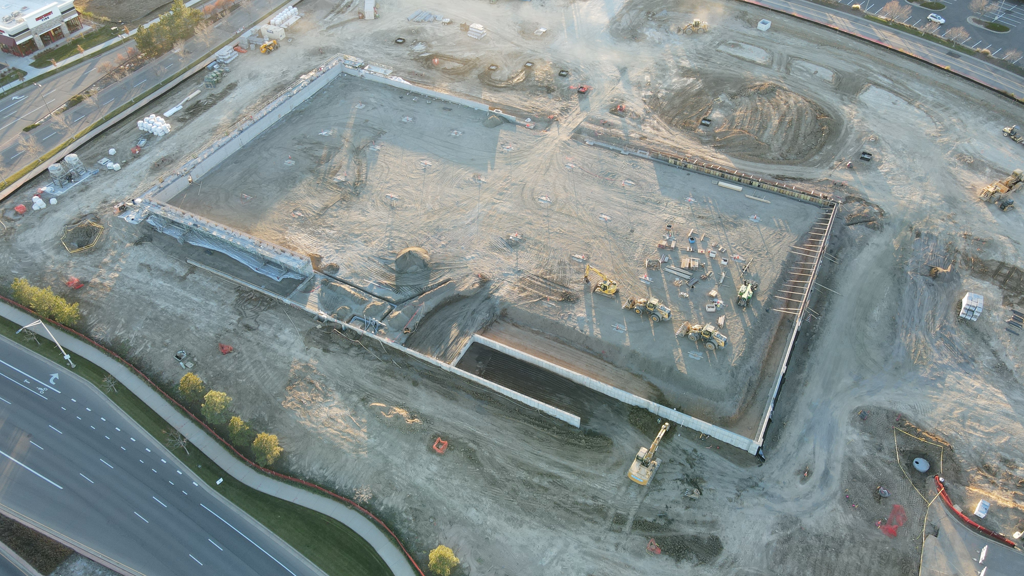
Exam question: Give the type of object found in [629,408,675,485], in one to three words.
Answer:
work vehicle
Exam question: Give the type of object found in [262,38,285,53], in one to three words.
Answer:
work vehicle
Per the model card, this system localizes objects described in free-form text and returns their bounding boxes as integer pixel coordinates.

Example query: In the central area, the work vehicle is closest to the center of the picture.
[581,258,621,301]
